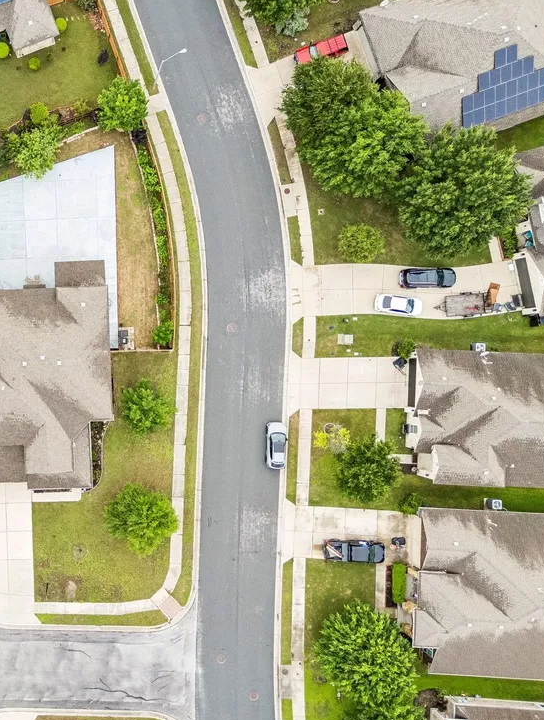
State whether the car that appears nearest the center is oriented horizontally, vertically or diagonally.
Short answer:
vertically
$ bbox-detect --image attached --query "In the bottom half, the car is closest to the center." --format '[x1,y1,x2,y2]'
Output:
[264,421,289,469]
